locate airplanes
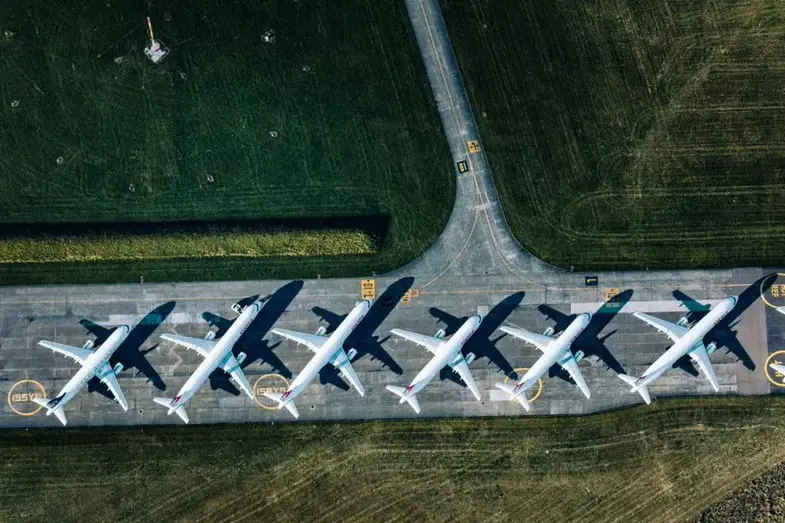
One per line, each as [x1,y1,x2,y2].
[33,325,130,424]
[265,301,372,418]
[498,314,593,410]
[619,296,738,403]
[386,317,482,414]
[153,302,263,423]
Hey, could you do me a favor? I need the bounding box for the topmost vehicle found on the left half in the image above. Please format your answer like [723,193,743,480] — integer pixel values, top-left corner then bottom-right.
[228,300,247,316]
